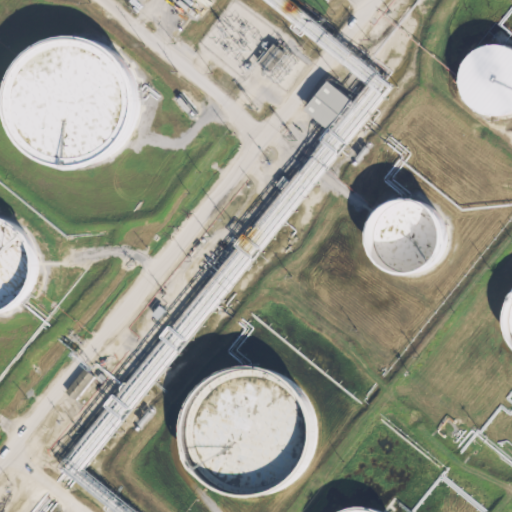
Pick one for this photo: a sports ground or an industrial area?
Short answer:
industrial area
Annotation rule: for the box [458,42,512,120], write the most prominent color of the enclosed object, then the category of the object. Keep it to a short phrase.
white storage tank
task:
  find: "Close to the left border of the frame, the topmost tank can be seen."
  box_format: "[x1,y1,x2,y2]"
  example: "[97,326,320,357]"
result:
[0,34,143,170]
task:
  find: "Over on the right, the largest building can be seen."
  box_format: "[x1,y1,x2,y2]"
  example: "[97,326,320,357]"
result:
[304,81,354,128]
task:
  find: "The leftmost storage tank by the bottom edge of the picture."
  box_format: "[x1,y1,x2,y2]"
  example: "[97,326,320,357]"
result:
[176,366,317,498]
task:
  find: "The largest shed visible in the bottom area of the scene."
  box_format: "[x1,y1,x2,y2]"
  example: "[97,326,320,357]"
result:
[68,372,99,403]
